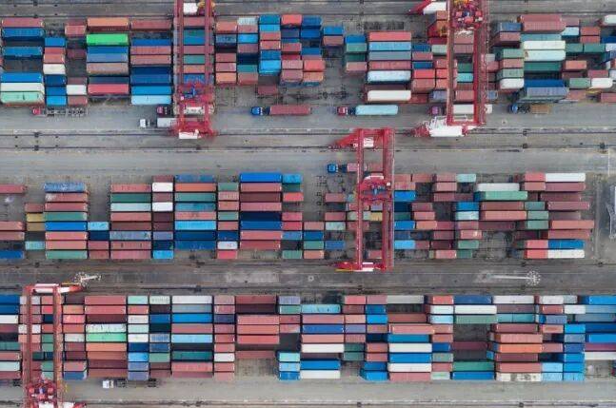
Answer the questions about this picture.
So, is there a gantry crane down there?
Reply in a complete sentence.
Yes, a gantry crane appears in the view.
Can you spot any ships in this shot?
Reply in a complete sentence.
No, I can see no ship in this picture.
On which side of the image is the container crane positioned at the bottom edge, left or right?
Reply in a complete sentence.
You can find the container crane positioned at the bottom edge on the left side of the picture.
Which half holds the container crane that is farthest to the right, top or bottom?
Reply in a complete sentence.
The container crane that is farthest to the right is in the top half of the image.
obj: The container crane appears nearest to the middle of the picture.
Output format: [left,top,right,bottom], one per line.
[323,129,393,273]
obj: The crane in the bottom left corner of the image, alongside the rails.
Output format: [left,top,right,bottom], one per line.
[21,281,87,408]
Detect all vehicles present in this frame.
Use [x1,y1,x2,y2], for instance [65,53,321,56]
[157,105,175,115]
[0,379,22,388]
[102,380,155,389]
[32,106,86,117]
[509,105,551,114]
[250,106,272,116]
[429,105,445,115]
[140,118,162,128]
[326,163,347,173]
[336,105,358,116]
